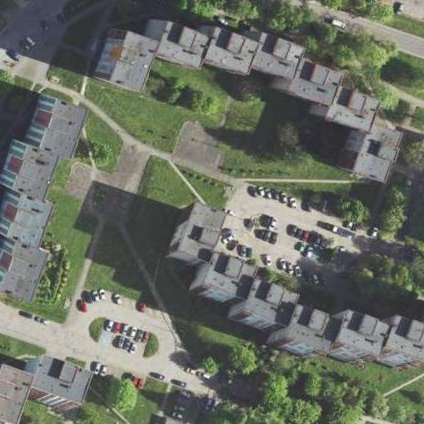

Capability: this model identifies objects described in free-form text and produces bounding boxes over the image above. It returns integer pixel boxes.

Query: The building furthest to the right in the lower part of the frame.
[372,314,424,367]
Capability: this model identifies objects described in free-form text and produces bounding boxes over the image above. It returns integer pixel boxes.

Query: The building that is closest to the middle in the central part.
[167,202,226,268]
